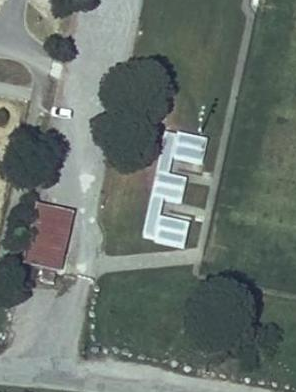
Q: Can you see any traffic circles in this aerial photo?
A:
No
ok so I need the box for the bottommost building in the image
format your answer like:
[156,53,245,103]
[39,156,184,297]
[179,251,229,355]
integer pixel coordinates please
[25,202,75,286]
